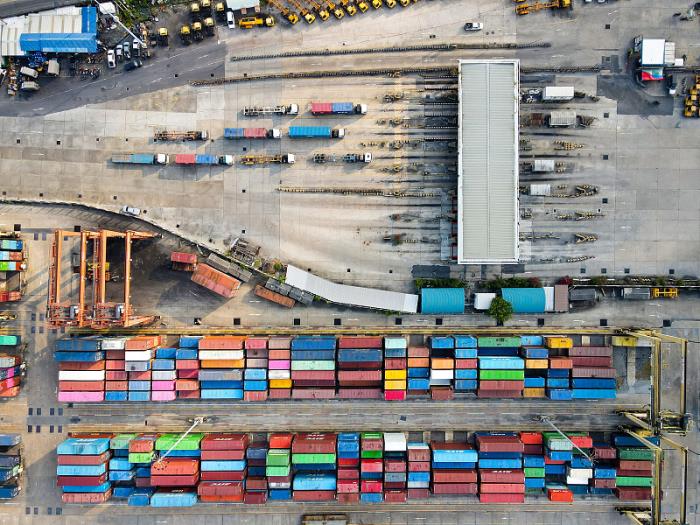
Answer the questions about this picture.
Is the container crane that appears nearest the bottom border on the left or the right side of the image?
right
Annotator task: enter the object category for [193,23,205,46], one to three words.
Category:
vehicle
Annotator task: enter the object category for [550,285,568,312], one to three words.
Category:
shed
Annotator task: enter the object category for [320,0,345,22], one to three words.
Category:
truck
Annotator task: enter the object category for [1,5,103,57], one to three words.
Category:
building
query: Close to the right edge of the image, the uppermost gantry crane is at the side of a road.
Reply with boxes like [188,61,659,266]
[617,326,695,435]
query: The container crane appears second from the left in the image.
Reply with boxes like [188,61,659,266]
[93,227,167,330]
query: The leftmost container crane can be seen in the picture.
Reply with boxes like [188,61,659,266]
[49,227,126,330]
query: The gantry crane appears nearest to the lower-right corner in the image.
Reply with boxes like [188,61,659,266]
[617,423,695,525]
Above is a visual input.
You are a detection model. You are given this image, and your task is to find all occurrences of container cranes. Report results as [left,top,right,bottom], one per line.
[93,227,167,330]
[49,227,126,330]
[617,326,695,435]
[617,423,695,525]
